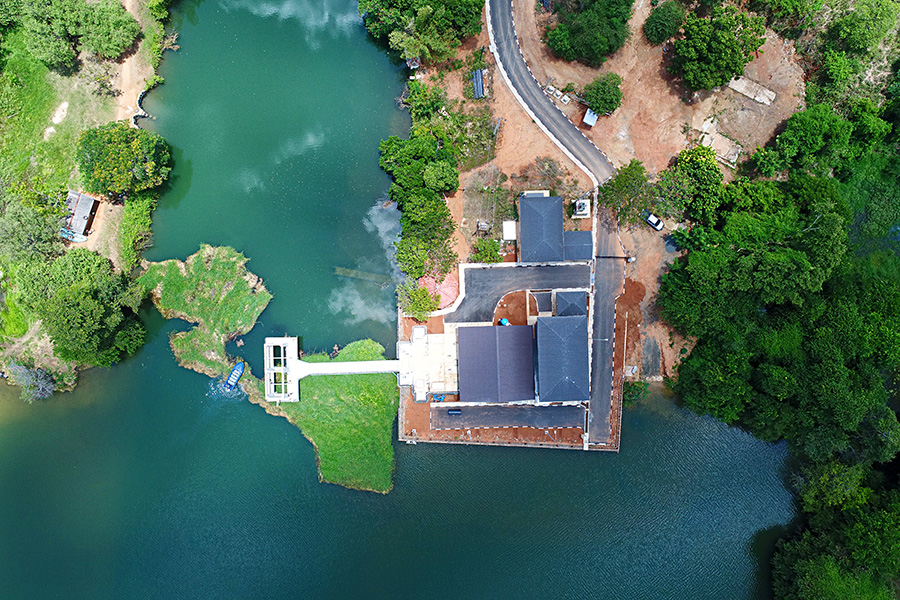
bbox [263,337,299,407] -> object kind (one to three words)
pier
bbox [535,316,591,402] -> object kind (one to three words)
house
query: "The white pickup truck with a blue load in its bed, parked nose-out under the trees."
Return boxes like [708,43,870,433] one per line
[641,211,664,230]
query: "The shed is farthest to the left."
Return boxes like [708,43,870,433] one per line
[61,192,102,236]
